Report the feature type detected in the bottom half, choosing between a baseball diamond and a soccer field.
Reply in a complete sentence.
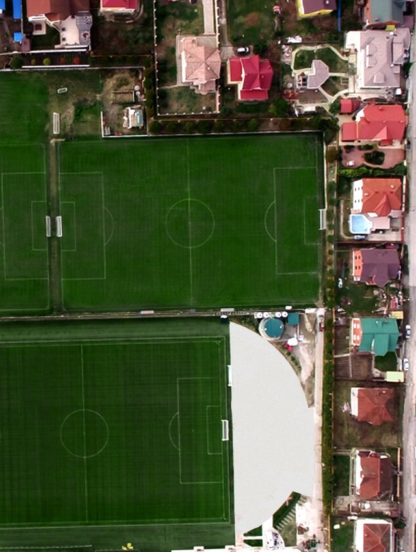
Visible in the bottom half is a soccer field.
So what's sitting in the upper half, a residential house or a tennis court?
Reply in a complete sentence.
The one visible in the upper half is a residential house.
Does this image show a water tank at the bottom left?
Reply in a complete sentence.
No, no water tank is visible at the bottom left.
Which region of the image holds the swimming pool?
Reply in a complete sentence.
The swimming pool is in the right part of the image.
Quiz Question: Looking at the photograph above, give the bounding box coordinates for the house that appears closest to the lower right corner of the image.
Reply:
[355,518,395,552]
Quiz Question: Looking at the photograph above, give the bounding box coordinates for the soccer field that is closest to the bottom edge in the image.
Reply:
[0,314,235,552]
